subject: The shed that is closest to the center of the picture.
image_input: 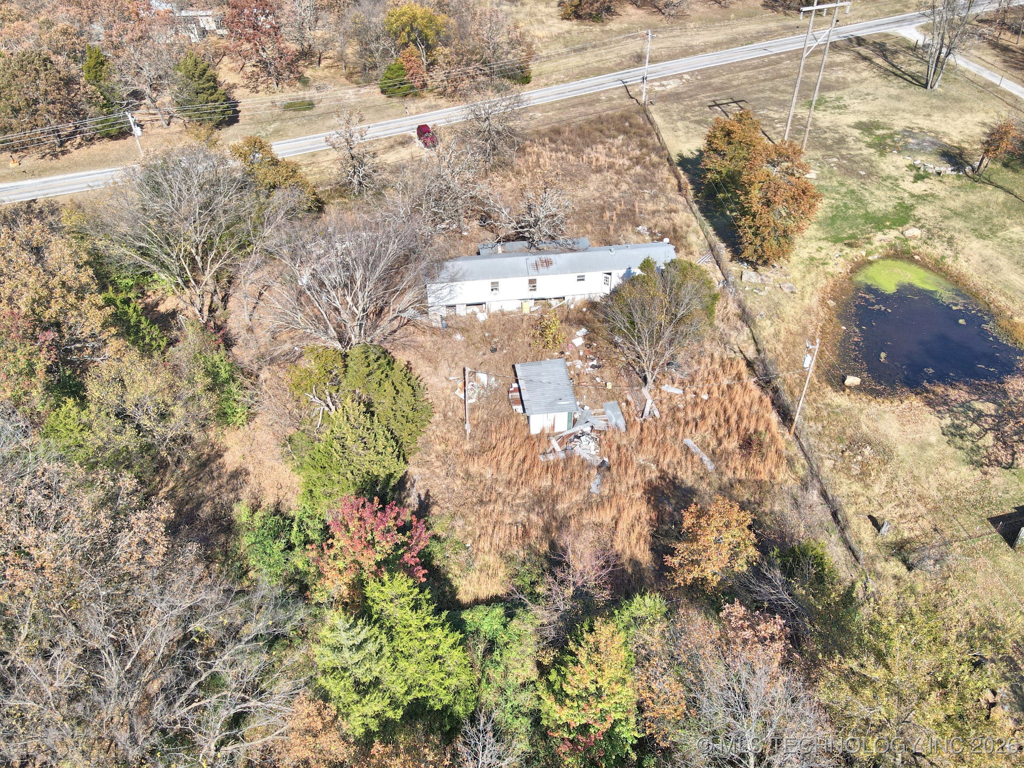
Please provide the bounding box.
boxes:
[510,357,576,439]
